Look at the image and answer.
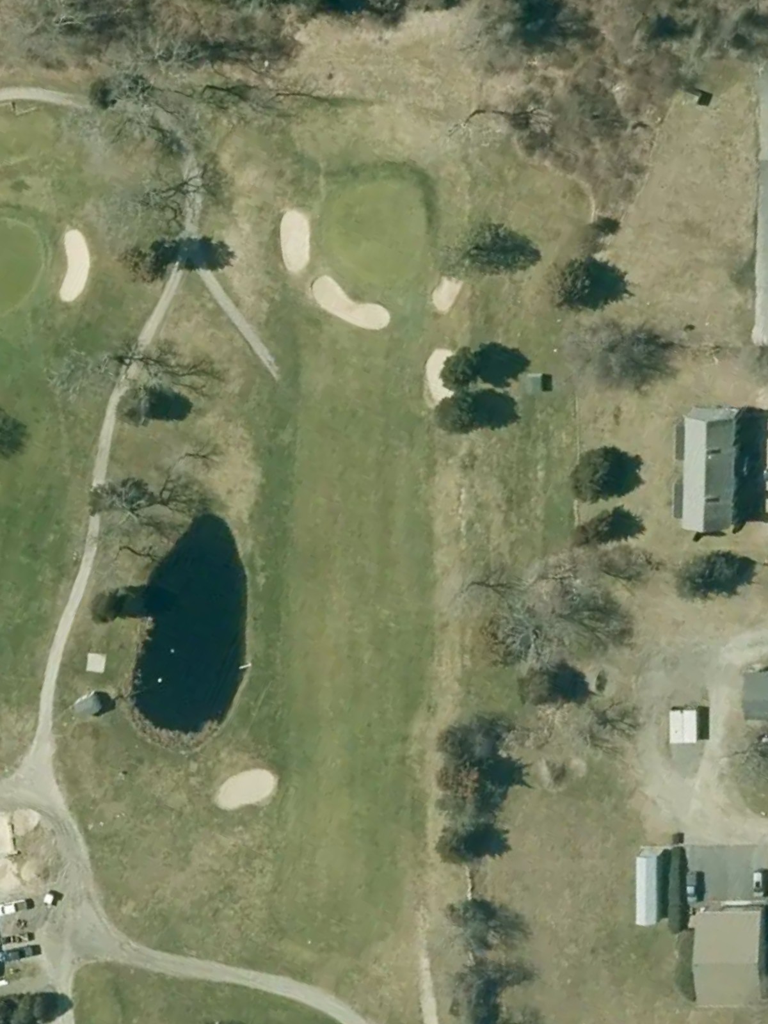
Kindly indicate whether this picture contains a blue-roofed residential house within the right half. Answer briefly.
No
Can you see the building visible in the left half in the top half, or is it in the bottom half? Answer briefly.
bottom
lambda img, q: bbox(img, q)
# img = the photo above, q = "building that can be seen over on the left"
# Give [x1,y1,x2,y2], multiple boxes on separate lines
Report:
[72,686,108,717]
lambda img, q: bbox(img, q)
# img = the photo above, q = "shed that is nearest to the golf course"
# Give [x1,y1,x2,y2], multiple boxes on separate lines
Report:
[525,372,544,391]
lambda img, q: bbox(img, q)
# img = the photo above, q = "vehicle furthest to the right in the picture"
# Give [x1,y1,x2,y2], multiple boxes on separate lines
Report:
[753,868,765,894]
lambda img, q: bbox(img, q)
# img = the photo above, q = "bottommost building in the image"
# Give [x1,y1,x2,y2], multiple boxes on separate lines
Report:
[688,904,767,1006]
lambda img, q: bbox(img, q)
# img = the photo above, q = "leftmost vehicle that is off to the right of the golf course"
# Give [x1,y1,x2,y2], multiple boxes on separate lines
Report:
[686,872,698,898]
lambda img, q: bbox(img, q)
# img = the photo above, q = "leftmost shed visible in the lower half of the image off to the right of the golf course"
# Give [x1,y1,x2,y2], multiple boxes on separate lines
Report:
[637,850,662,927]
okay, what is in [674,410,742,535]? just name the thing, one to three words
house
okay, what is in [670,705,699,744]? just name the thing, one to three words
shed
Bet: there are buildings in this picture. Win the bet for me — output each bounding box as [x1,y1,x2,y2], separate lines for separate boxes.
[525,372,544,391]
[685,87,703,103]
[72,686,108,717]
[688,904,767,1006]
[741,665,768,719]
[670,705,699,744]
[674,410,742,535]
[637,850,662,927]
